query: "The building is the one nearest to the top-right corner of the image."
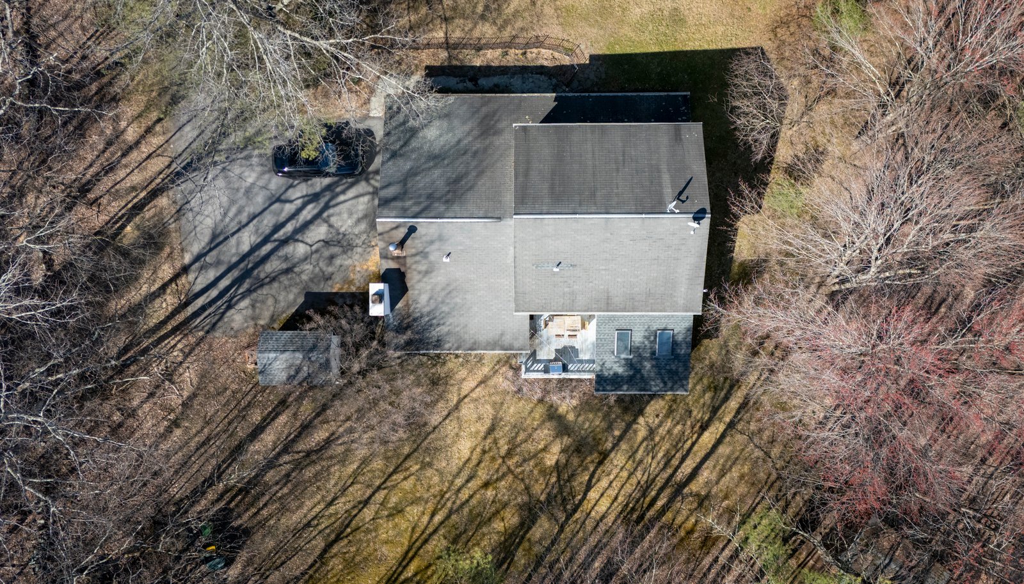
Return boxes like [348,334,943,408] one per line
[370,92,713,395]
